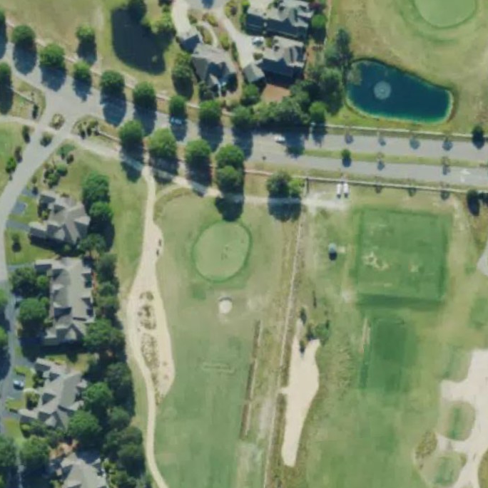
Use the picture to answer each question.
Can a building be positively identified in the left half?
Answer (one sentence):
Yes, I can see a building in the left half.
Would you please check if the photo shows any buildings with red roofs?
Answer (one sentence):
No, I can't see a single building with a red roof in this photo.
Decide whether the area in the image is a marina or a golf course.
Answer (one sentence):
This image shows a golf course.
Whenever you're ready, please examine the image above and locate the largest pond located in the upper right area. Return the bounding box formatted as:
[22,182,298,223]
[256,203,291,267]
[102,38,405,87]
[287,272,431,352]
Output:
[343,57,455,126]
